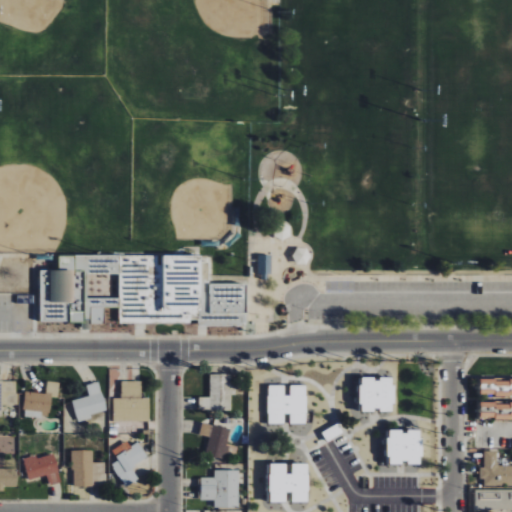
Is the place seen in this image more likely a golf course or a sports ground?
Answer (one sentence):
The picture captures a sports ground.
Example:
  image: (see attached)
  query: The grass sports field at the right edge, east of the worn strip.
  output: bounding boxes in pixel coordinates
[420,0,512,270]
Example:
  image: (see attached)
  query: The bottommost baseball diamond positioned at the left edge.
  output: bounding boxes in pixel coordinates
[0,76,132,254]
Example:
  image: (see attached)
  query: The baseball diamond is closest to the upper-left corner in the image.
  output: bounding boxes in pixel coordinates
[0,0,106,76]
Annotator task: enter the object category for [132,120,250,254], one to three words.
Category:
baseball field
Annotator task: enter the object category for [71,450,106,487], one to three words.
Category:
house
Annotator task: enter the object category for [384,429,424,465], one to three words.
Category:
building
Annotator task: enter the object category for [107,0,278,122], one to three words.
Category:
baseball field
